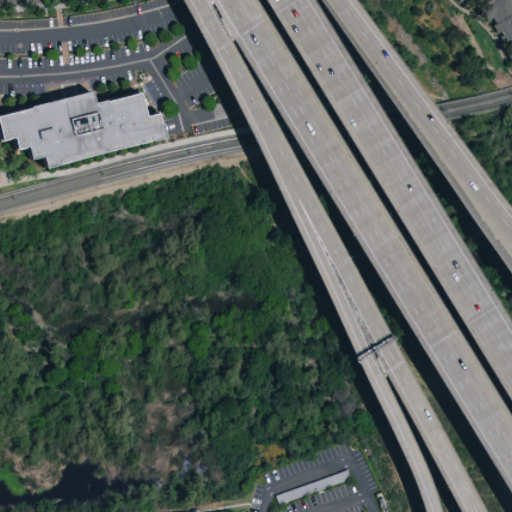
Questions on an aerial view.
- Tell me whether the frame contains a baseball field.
No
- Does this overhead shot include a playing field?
No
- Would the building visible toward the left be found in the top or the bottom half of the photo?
top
